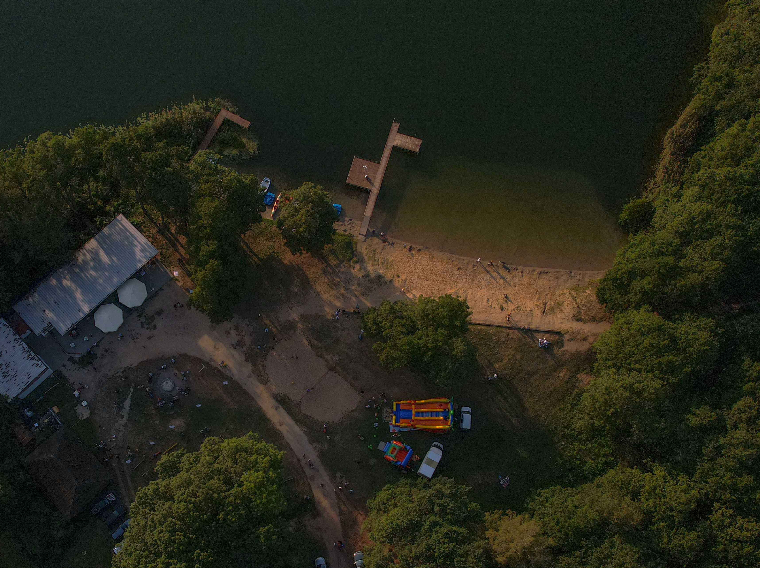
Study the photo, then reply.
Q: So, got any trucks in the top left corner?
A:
No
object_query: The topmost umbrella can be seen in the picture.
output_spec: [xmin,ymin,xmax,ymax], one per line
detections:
[118,279,148,307]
